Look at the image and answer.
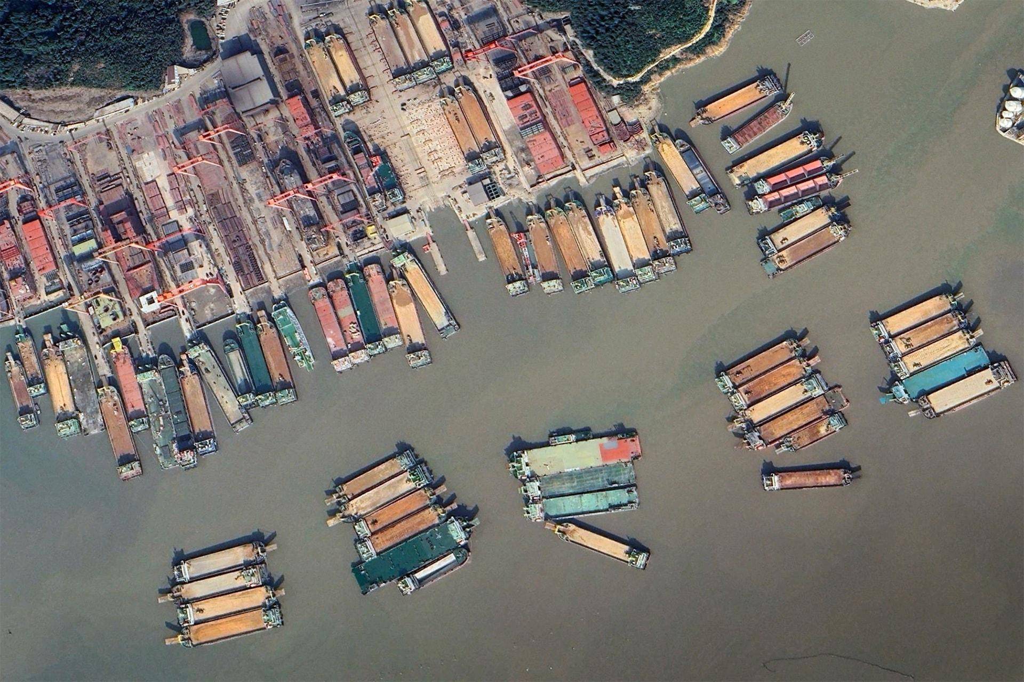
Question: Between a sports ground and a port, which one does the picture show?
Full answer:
The picture captures a port.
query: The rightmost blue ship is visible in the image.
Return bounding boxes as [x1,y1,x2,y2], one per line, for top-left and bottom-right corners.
[883,345,993,402]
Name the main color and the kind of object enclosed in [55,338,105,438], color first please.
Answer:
gray ship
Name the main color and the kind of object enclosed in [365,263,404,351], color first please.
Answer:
pink ship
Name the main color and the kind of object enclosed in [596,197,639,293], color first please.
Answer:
white ship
